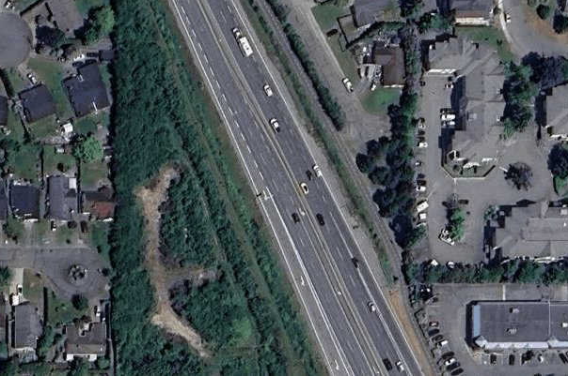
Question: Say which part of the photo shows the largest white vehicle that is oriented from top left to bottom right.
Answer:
top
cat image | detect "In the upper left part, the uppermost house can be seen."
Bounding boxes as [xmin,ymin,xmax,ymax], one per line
[48,0,85,34]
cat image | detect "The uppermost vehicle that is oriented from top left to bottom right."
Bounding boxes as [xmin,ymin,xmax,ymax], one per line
[235,32,255,56]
